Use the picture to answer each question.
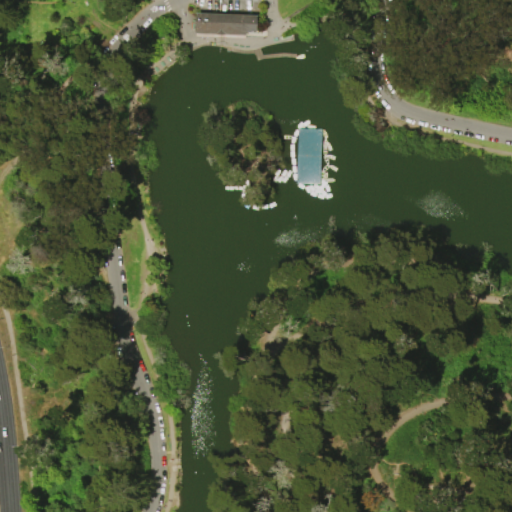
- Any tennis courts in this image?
No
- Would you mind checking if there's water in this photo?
Yes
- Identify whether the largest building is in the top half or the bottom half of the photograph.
top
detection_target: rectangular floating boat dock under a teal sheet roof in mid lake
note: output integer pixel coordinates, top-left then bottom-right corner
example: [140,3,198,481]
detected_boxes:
[298,128,322,184]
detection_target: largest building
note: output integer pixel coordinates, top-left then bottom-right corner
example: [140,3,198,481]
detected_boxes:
[196,12,268,37]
